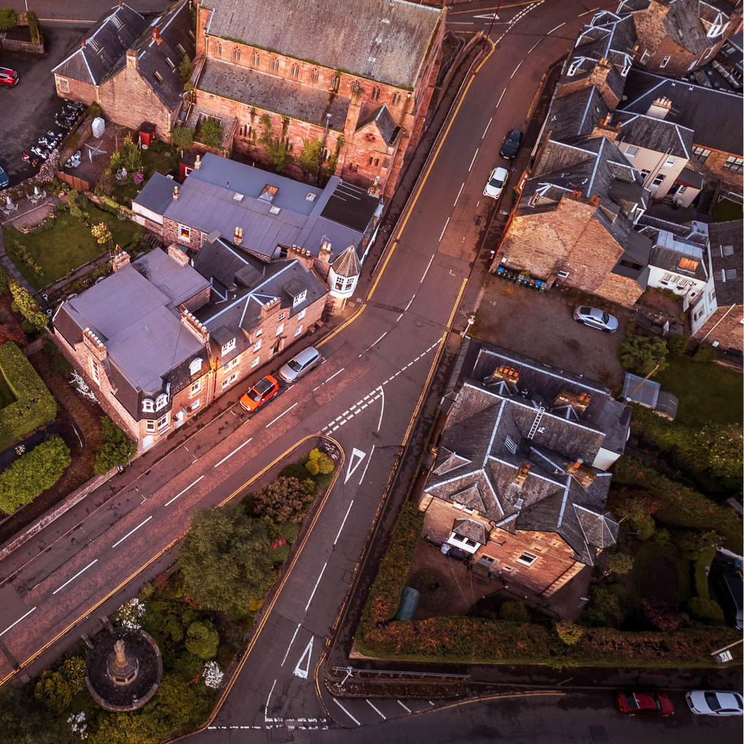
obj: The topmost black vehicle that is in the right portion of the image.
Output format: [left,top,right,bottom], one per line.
[498,127,522,163]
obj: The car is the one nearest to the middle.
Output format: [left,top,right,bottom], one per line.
[274,343,328,388]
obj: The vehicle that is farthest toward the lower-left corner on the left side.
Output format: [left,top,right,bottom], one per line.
[233,372,284,414]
